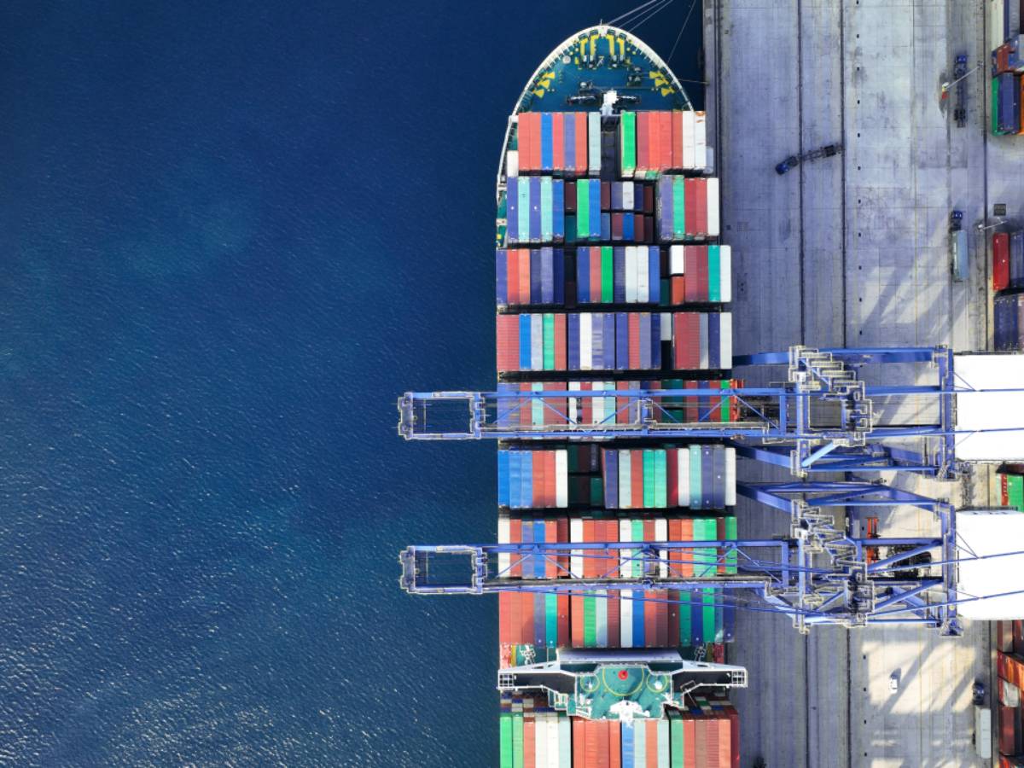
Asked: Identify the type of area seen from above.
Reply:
port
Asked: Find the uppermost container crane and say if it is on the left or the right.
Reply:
right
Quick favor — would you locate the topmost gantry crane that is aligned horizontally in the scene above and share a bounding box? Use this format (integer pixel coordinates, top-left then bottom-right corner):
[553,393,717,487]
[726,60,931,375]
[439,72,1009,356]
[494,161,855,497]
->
[396,335,1024,481]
